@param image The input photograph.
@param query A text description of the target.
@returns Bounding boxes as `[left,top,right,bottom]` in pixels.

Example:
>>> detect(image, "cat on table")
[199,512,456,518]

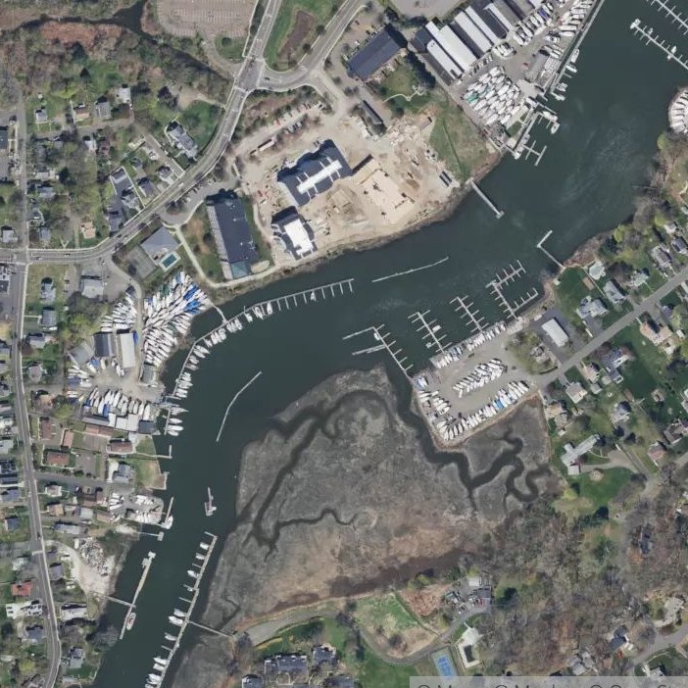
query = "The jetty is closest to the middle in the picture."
[342,324,415,380]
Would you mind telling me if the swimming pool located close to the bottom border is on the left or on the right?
right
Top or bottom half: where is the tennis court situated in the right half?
bottom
